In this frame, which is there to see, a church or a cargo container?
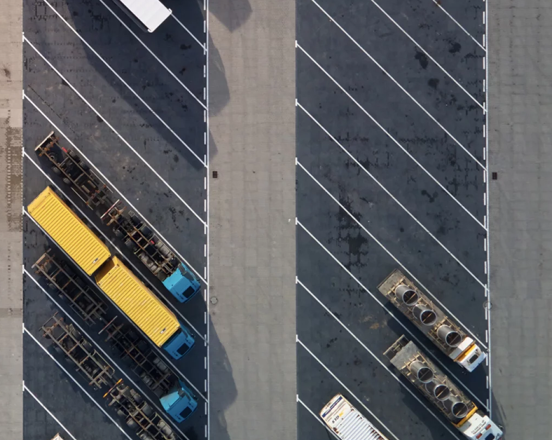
cargo container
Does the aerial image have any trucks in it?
Yes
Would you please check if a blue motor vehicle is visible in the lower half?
Yes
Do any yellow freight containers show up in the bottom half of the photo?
Yes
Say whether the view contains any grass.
No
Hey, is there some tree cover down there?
No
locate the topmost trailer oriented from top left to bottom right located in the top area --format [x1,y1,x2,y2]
[35,131,112,212]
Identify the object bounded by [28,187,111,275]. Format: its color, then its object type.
yellow shipping container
